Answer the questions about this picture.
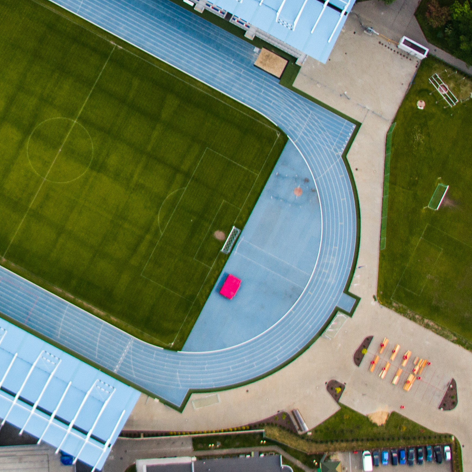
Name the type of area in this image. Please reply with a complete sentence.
The area seen from above is a sports ground.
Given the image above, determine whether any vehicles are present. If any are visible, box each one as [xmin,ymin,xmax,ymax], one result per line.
[390,450,398,466]
[434,447,442,464]
[398,450,406,465]
[363,450,373,472]
[444,446,451,462]
[372,452,380,467]
[381,451,388,466]
[425,446,434,462]
[408,449,416,466]
[417,448,425,465]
